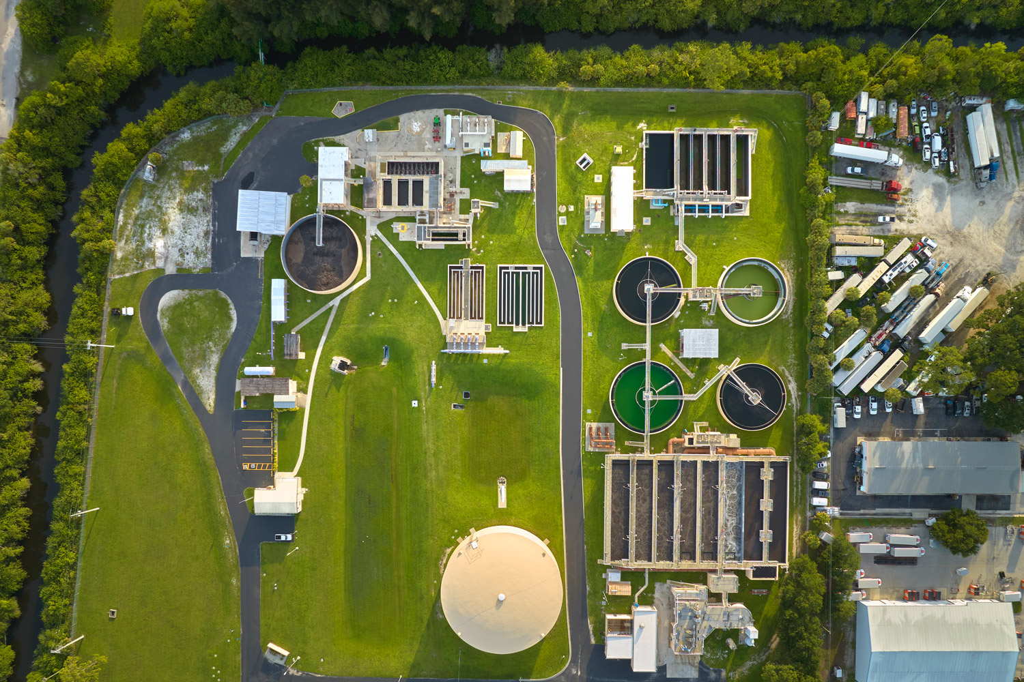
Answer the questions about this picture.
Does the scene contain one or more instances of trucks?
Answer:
Yes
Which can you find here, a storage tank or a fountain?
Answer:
storage tank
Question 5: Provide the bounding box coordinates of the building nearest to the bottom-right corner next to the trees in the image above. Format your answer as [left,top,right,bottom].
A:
[850,597,1020,682]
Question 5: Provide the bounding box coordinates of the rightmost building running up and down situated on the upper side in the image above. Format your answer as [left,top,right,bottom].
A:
[609,165,637,233]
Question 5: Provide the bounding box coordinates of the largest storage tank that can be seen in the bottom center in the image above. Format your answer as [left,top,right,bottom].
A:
[440,523,563,654]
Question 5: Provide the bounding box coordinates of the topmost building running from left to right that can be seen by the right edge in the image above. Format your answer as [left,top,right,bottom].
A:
[860,440,1022,494]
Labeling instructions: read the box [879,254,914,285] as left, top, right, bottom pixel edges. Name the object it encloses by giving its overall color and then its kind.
white camper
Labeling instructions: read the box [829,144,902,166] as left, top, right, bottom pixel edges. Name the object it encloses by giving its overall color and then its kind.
white truck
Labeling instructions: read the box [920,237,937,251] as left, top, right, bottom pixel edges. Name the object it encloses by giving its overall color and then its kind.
white car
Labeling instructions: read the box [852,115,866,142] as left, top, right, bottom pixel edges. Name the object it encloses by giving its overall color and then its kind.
white vehicle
